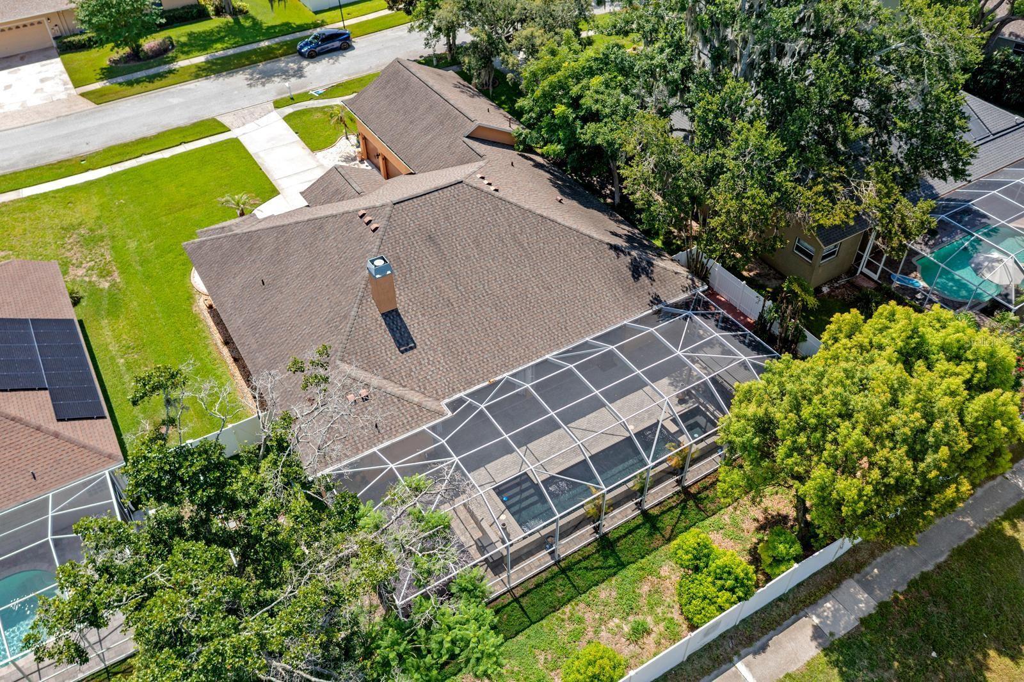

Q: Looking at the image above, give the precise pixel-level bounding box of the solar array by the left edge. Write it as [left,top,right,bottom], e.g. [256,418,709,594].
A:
[0,317,105,421]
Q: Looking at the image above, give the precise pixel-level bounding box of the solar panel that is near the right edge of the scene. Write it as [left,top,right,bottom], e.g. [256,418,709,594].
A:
[937,106,982,141]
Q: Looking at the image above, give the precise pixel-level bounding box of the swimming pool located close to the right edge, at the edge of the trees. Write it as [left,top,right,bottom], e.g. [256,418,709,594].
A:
[887,204,1024,314]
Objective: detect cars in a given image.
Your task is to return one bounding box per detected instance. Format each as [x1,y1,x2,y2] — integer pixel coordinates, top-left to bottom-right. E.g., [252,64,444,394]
[293,26,354,59]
